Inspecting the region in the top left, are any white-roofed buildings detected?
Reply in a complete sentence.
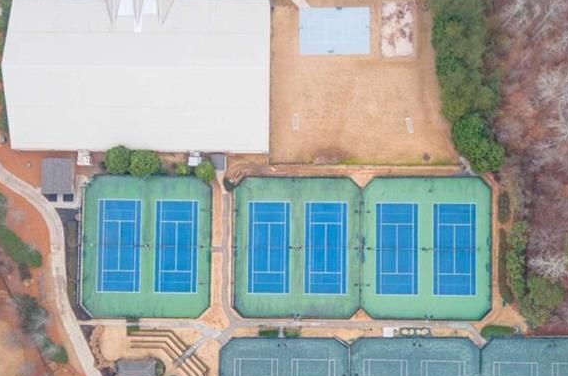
Yes, a white-roofed building can be seen in the top left.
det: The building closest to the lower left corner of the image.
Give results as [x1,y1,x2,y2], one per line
[117,357,159,376]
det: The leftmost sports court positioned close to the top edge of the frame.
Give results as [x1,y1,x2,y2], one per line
[299,7,370,55]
